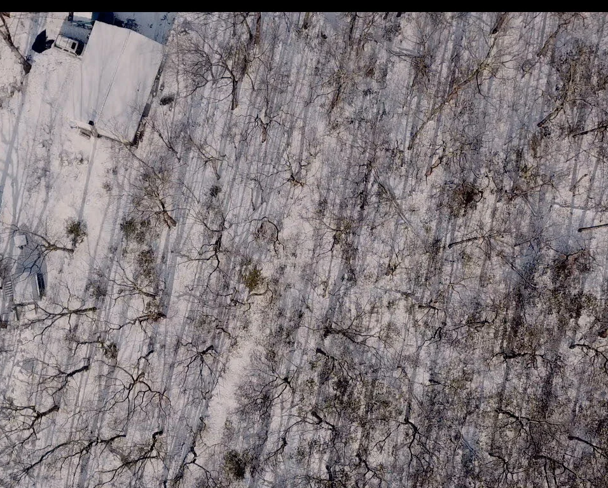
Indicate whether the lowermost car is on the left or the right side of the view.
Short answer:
left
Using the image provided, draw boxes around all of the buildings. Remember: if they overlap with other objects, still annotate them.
[8,273,37,305]
[61,20,169,143]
